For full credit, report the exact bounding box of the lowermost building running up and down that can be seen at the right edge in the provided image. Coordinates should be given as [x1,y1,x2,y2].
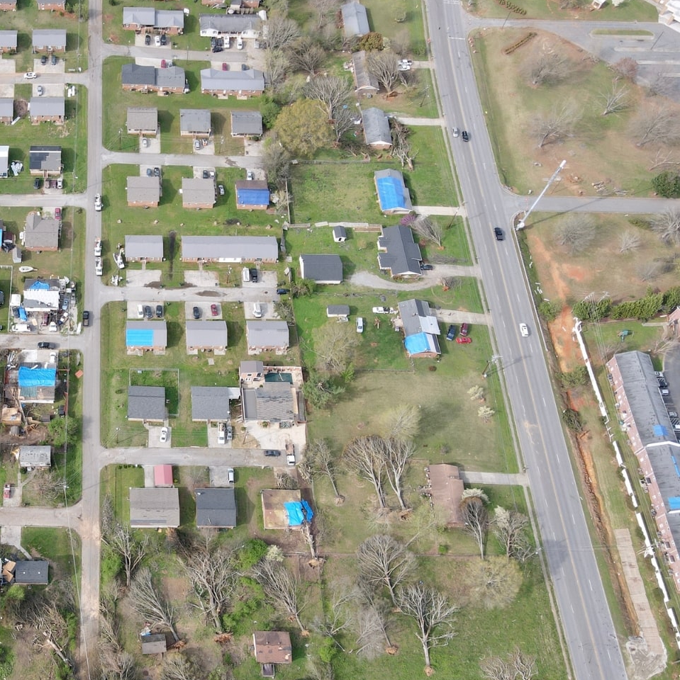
[601,352,680,645]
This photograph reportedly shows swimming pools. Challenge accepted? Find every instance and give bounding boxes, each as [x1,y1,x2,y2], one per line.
[267,371,295,383]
